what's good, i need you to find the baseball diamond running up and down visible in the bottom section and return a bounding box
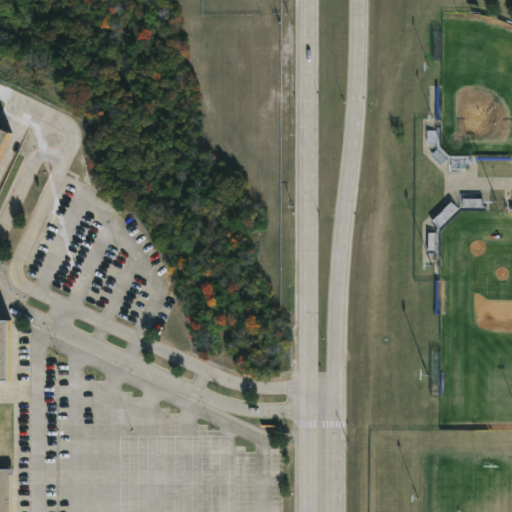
[441,210,512,430]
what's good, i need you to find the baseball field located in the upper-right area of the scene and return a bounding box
[442,13,512,157]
